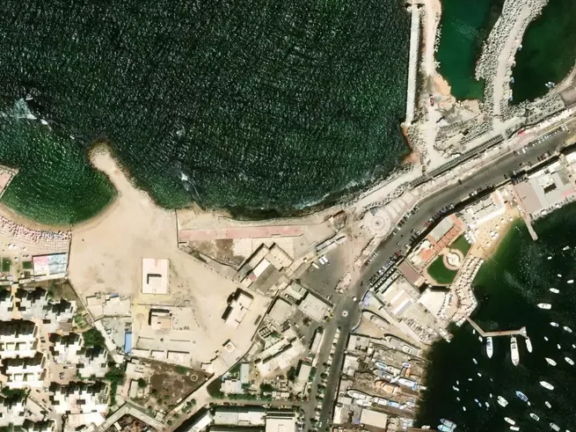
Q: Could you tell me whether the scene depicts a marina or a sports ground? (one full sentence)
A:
What you see here is a marina.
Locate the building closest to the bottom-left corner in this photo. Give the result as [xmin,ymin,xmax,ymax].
[0,397,26,426]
